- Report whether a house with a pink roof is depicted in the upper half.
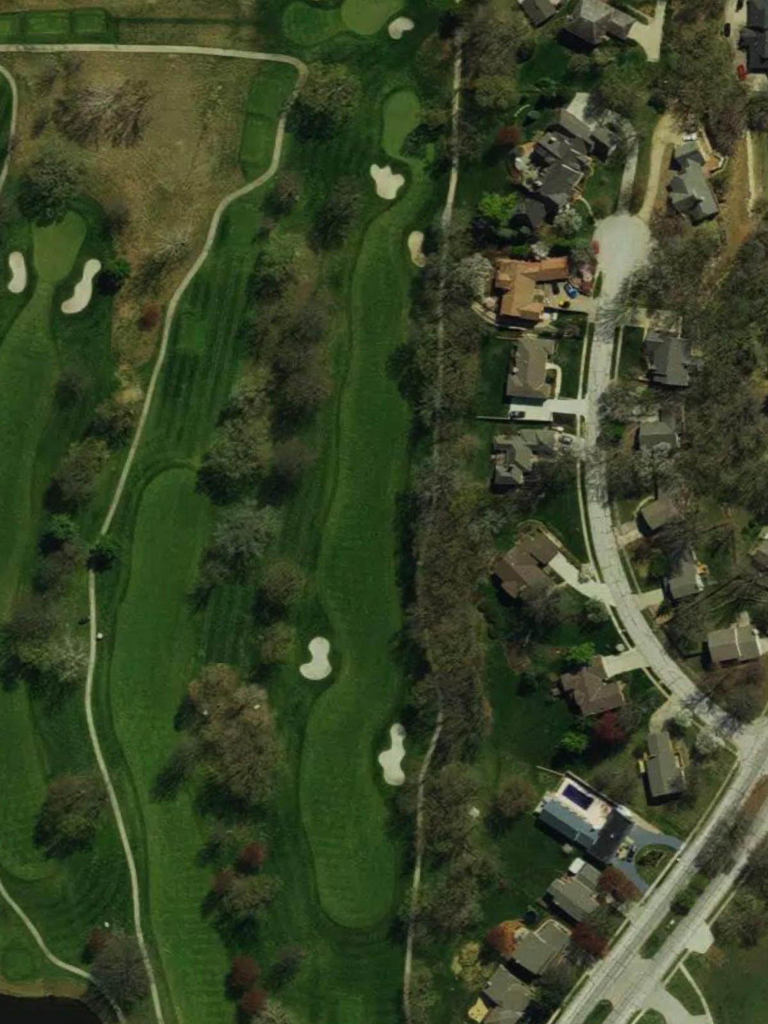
No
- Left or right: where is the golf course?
left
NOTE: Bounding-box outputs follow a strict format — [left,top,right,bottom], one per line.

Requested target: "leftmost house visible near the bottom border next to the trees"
[468,965,533,1024]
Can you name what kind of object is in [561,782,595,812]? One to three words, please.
swimming pool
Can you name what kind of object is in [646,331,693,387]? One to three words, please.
house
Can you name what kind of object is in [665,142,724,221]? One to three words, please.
house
